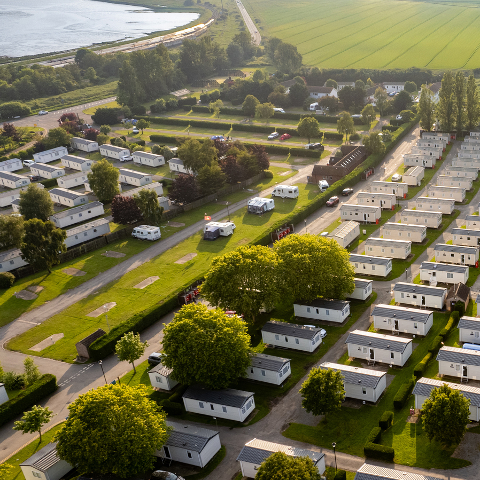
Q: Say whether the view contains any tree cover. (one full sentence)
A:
Yes, tree cover shows up in the scene.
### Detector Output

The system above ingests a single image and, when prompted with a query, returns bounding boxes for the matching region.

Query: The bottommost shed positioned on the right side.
[442,279,475,315]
